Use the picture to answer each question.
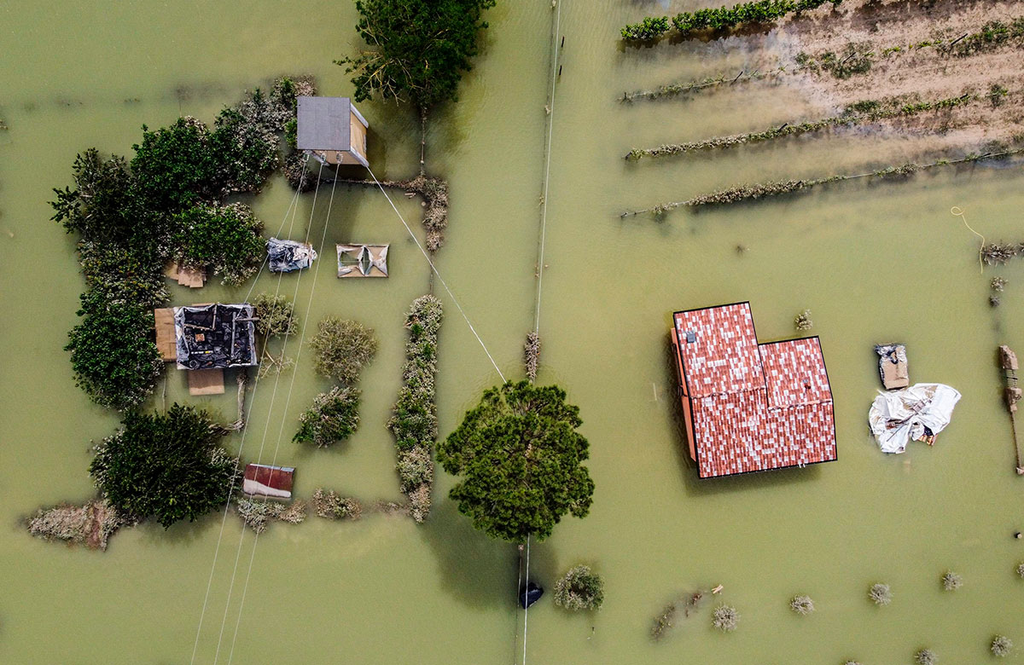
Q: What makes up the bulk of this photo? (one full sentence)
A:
The largest share of the image is taken up by water.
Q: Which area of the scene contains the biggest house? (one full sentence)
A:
The biggest house sits in the right section of the image.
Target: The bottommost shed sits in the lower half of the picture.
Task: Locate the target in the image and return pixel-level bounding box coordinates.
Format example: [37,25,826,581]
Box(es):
[243,463,297,500]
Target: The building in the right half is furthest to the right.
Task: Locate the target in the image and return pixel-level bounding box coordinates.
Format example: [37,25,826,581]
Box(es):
[670,301,838,480]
